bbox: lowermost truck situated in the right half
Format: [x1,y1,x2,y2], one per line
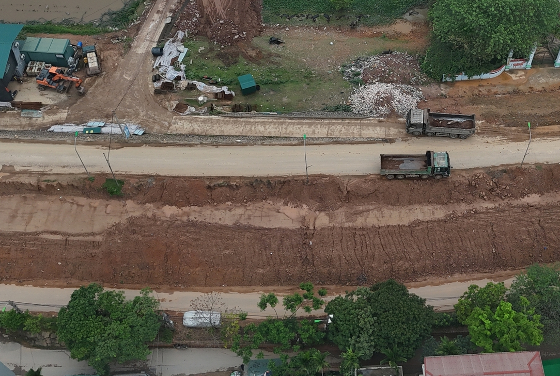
[376,151,453,179]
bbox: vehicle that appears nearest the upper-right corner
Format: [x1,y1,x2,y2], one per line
[406,109,479,139]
